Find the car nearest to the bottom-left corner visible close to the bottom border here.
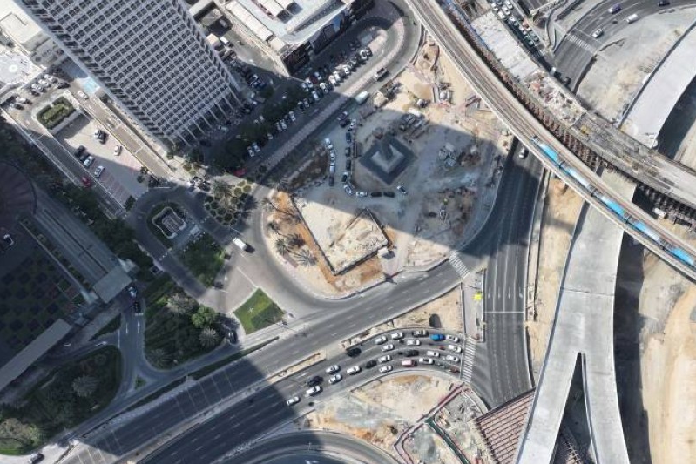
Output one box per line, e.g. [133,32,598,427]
[28,451,44,464]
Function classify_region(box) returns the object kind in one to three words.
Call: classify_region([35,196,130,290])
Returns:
building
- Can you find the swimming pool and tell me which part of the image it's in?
top left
